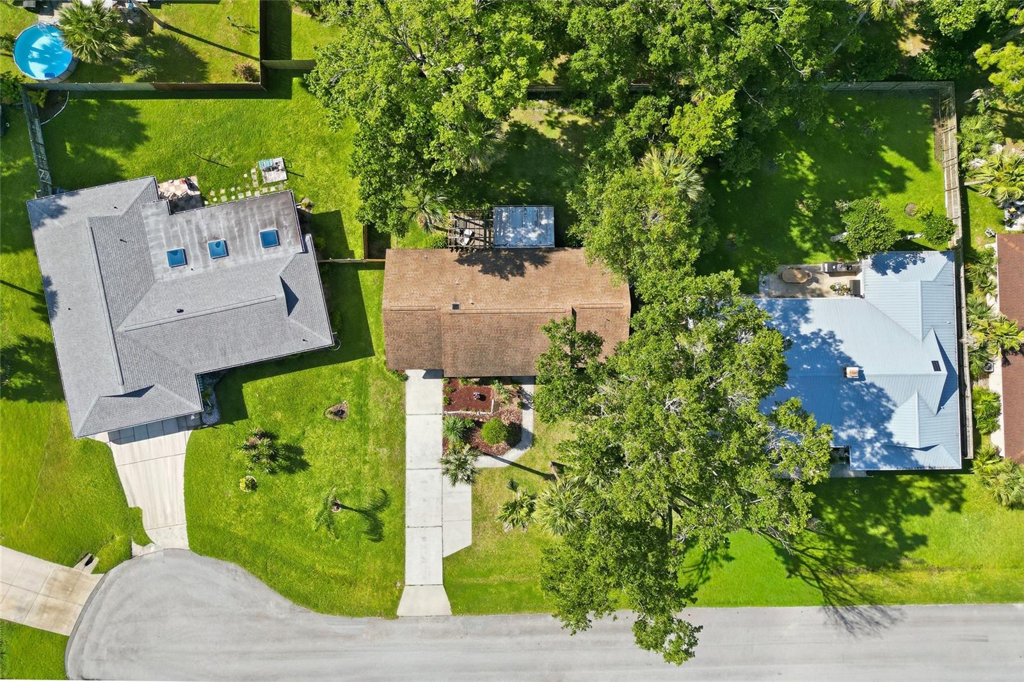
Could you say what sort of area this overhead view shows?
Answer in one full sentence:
This image shows a residential area.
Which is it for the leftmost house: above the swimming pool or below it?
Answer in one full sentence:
The leftmost house is found below the swimming pool in the photo.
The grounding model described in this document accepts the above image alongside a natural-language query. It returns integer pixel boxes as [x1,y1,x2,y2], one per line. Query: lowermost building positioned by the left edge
[26,174,335,441]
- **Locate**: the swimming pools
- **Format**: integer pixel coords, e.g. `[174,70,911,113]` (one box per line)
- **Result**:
[12,17,84,83]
